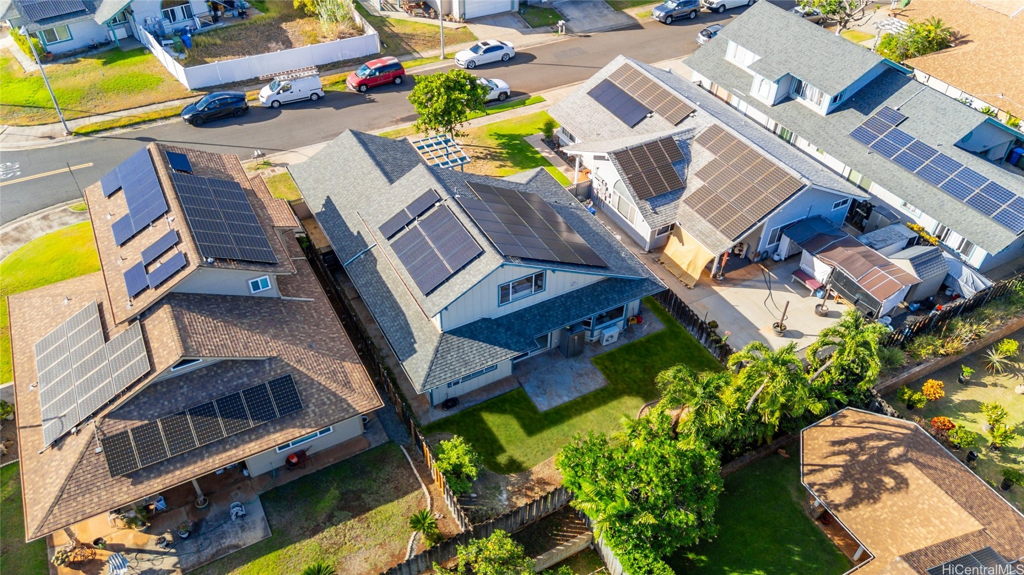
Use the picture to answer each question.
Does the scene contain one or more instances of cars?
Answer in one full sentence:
Yes, the photo shows a car.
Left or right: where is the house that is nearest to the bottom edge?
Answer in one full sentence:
The house that is nearest to the bottom edge sits on the right side.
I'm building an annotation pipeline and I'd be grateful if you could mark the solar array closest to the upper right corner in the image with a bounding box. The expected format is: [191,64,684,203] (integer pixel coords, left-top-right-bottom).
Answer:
[849,107,1024,227]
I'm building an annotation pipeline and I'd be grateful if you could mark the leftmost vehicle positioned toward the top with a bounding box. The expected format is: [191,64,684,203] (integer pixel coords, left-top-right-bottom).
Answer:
[179,90,251,128]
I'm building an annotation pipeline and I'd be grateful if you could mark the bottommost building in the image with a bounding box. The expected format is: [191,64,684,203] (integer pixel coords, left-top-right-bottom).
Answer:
[797,404,1024,575]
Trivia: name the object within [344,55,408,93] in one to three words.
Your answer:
car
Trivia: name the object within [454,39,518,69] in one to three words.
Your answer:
car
